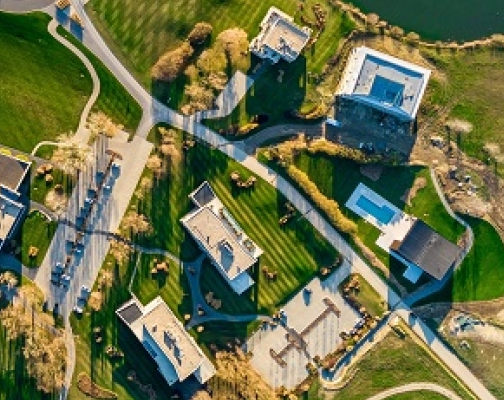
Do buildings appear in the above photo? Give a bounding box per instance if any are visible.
[0,151,32,250]
[340,47,430,124]
[115,292,215,386]
[248,7,313,65]
[389,220,463,283]
[178,181,264,295]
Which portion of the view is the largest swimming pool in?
right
